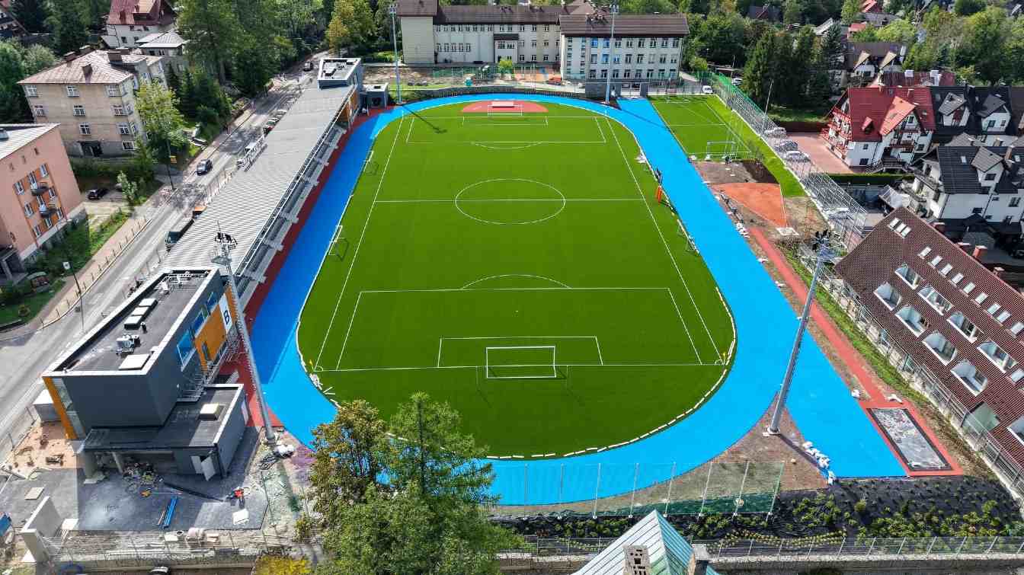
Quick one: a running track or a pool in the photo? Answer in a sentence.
Looking from above, you can make out a running track.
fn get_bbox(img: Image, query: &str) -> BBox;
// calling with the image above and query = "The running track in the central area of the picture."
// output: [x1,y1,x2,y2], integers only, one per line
[249,93,782,506]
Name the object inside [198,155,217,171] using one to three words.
car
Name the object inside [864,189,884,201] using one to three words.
vehicle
